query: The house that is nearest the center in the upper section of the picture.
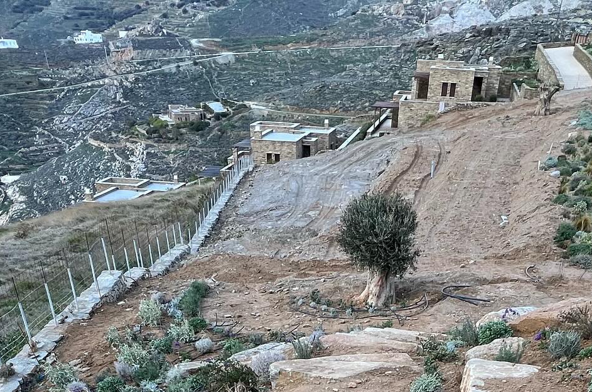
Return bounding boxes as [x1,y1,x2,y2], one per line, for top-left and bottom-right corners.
[219,117,336,181]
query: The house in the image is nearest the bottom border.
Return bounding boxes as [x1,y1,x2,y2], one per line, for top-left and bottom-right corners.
[84,170,193,203]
